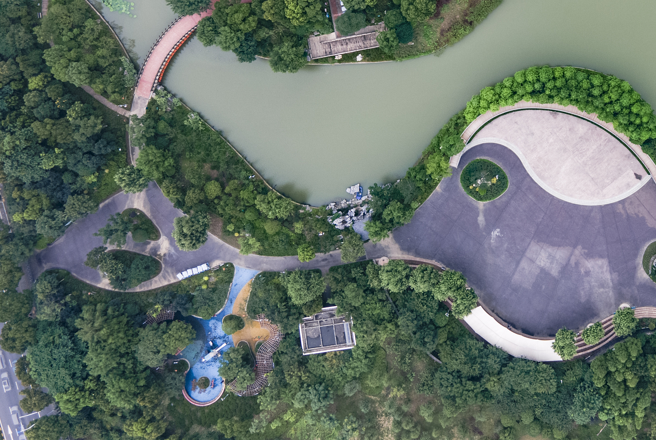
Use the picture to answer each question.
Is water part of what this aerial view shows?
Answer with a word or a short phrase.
Yes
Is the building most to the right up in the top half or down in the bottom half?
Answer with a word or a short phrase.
bottom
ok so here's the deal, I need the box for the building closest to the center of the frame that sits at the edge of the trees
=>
[299,305,358,358]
